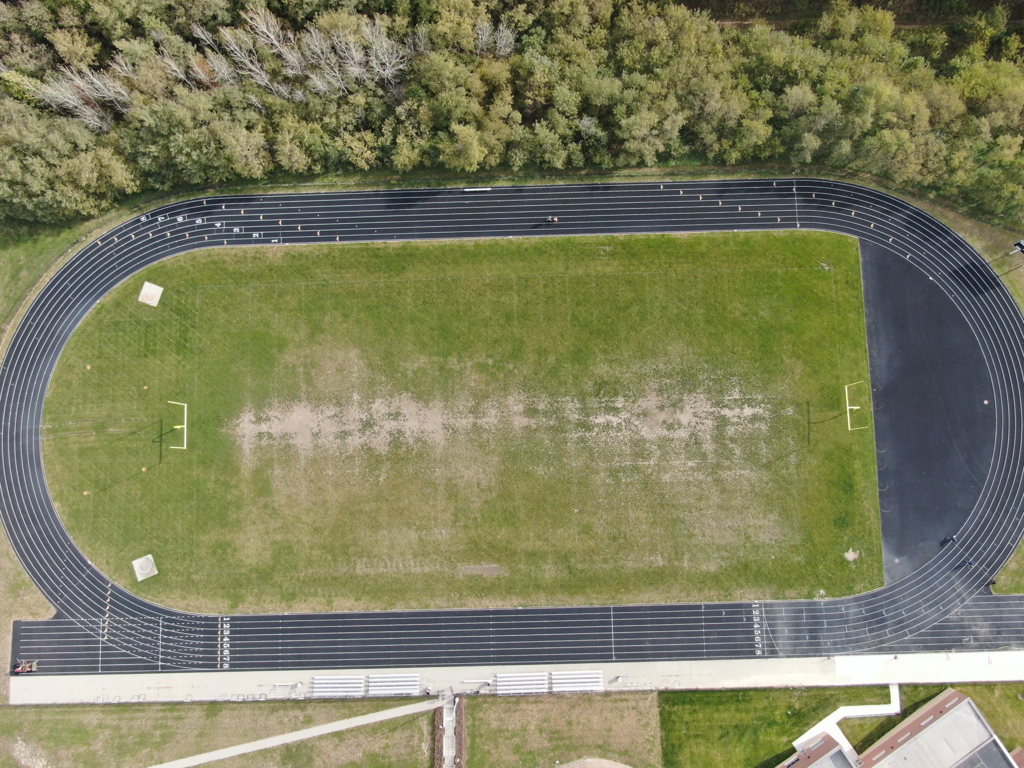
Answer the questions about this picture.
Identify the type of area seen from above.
sports ground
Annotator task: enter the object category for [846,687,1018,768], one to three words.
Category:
building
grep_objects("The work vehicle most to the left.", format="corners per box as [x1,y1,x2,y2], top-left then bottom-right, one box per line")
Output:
[12,661,35,676]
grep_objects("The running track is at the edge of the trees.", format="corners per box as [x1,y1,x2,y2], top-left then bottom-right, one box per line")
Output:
[0,178,1024,678]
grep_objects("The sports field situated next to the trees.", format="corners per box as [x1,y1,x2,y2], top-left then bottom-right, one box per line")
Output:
[42,230,884,614]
